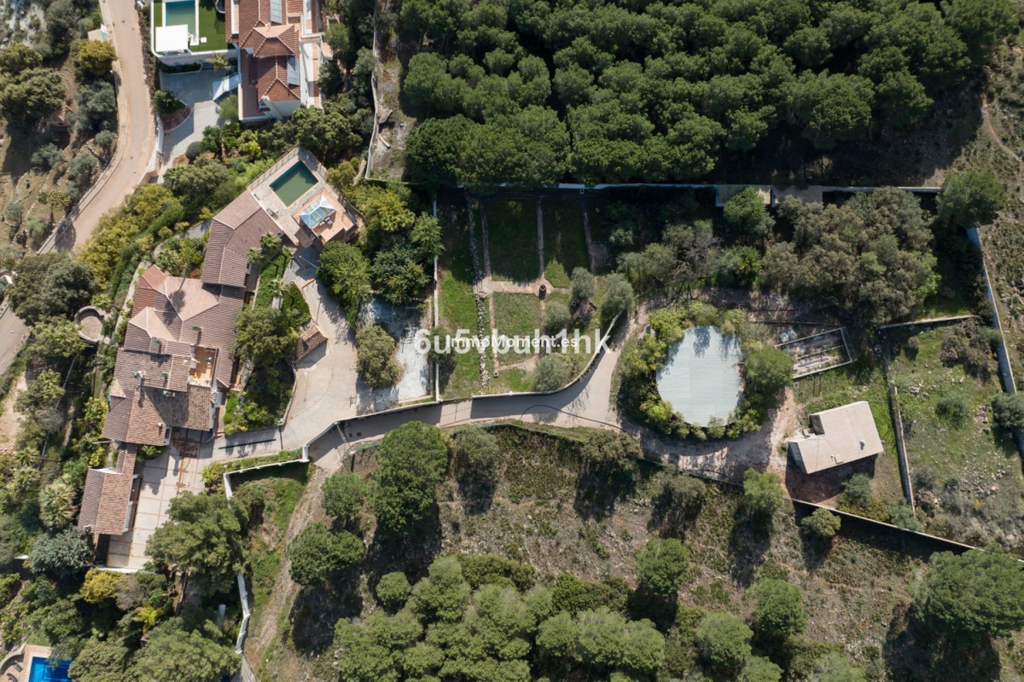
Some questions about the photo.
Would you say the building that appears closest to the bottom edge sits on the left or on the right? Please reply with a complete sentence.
The building that appears closest to the bottom edge sits on the left side.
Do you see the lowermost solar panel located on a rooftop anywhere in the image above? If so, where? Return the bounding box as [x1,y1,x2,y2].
[287,56,299,85]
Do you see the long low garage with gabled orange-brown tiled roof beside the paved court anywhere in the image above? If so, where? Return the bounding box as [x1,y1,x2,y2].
[77,443,151,535]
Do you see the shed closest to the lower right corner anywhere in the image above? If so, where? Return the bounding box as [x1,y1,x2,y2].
[788,400,883,474]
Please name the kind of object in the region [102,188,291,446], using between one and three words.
house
